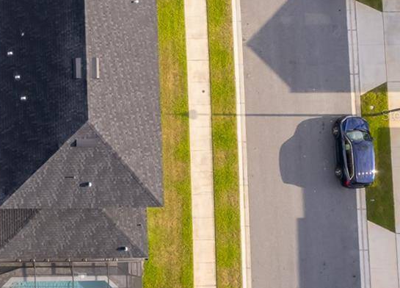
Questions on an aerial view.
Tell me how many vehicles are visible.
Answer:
one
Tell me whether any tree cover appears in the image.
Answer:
No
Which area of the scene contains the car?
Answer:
right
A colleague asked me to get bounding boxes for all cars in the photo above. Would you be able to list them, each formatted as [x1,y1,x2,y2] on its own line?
[336,117,377,187]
